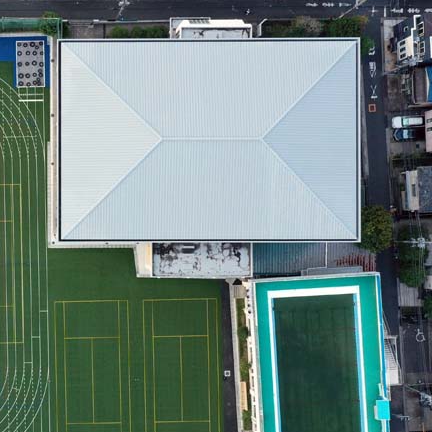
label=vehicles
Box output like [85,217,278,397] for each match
[388,116,424,130]
[389,128,419,142]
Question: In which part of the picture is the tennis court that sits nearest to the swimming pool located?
bottom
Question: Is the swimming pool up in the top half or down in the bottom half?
bottom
